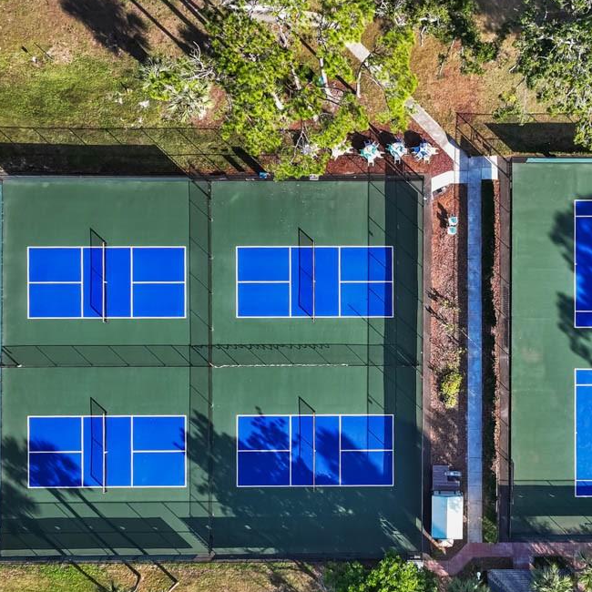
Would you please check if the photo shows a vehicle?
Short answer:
No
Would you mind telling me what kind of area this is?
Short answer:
sports ground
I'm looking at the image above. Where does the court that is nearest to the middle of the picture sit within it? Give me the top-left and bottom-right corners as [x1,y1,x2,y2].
[211,182,424,367]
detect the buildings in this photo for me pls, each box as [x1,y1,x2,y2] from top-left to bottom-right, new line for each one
[488,565,556,592]
[433,492,464,541]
